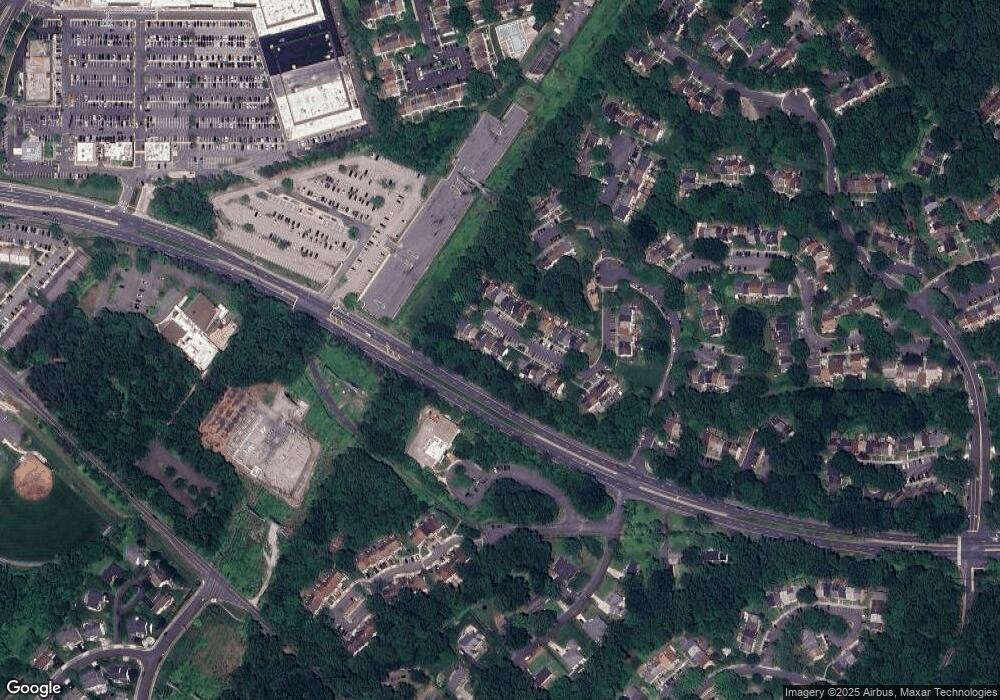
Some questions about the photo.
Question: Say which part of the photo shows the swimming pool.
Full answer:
You can find the swimming pool in the top area of the picture.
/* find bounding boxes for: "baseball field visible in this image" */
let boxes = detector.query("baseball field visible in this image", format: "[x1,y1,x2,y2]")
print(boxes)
[0,451,107,562]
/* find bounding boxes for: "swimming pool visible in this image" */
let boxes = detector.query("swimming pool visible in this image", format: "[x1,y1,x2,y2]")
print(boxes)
[496,17,538,61]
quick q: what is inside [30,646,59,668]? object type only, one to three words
house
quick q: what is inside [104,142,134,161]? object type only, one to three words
building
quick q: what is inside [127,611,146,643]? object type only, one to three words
house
